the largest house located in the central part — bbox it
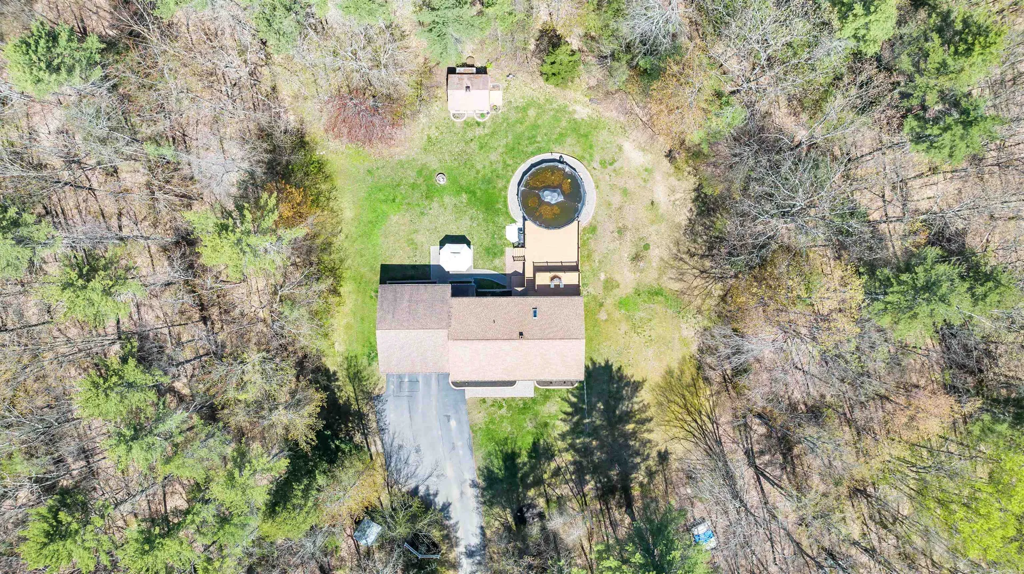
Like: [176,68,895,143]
[376,283,585,382]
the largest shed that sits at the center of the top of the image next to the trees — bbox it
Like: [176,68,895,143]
[447,68,489,115]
